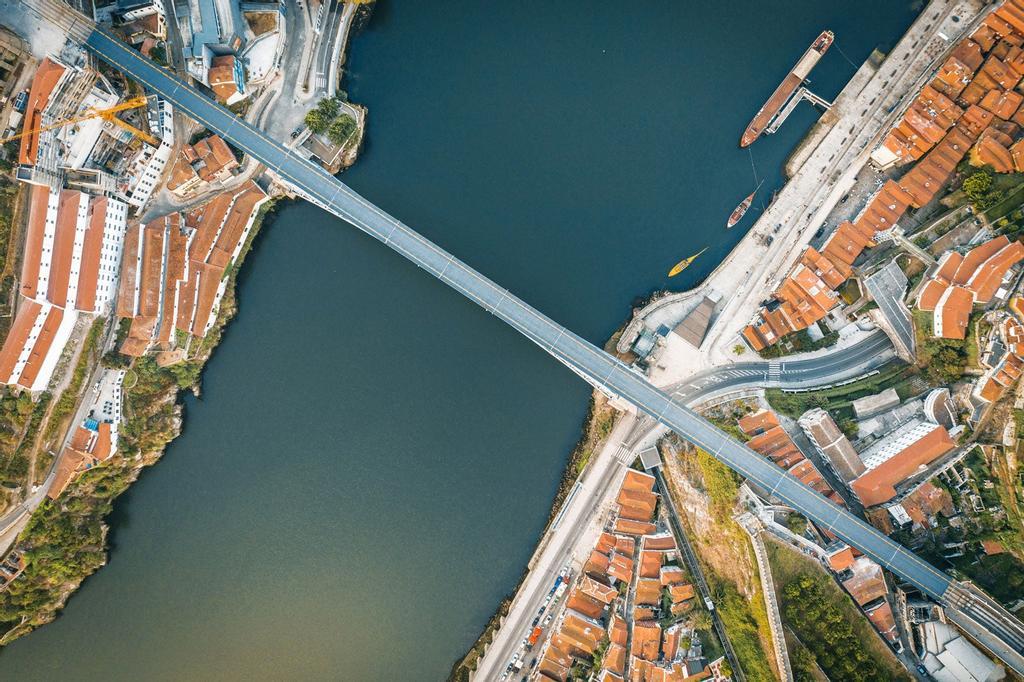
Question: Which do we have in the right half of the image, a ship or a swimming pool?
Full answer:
You can see a ship in the right half of the image.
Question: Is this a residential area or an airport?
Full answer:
The picture captures a residential area.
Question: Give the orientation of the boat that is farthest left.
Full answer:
The boat that is farthest left is laid out at an angle.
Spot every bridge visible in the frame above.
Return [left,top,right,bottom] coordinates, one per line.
[82,24,956,600]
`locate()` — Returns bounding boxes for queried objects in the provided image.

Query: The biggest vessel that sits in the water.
[740,27,836,148]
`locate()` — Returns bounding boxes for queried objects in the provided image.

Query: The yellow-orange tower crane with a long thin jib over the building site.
[0,100,164,145]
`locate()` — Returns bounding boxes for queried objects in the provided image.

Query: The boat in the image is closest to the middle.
[668,247,709,277]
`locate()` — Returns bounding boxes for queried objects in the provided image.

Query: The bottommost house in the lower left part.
[0,547,30,590]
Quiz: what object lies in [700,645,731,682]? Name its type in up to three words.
house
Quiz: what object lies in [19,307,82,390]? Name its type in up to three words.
building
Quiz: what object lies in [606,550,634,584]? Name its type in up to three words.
house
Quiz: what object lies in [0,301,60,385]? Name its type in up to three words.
building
